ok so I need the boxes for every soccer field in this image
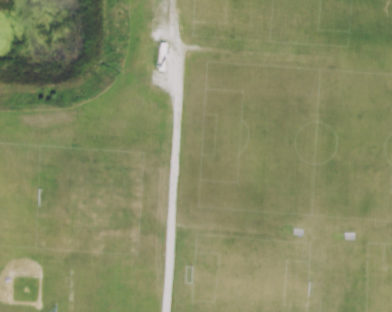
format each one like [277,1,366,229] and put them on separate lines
[192,235,311,312]
[194,0,353,48]
[38,146,145,254]
[199,62,392,222]
[0,142,40,250]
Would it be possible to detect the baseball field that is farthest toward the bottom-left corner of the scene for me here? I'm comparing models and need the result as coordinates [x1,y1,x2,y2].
[0,258,44,310]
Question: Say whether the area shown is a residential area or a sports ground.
sports ground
